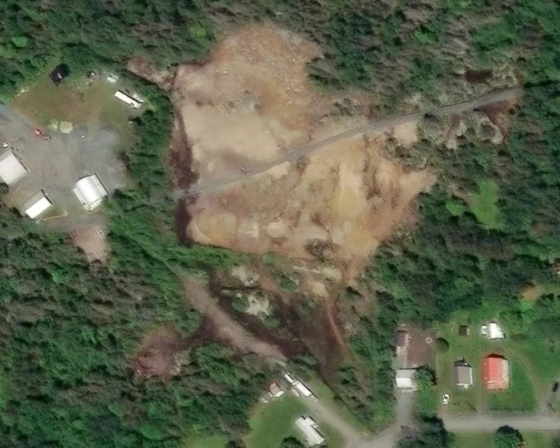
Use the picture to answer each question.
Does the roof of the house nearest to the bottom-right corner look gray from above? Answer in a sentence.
No, from above the roof of the house nearest to the bottom-right corner looks red.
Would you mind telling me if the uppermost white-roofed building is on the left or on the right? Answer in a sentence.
You can find the uppermost white-roofed building on the left side of the picture.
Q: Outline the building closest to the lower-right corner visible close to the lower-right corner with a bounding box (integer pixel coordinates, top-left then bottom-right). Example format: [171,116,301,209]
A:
[483,358,507,386]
